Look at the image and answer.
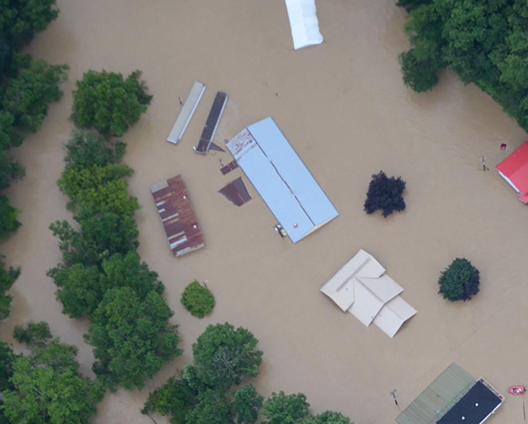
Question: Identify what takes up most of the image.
water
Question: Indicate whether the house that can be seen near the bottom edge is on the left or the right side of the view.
right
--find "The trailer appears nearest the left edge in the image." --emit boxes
[167,82,206,146]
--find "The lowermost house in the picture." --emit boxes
[397,363,506,424]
